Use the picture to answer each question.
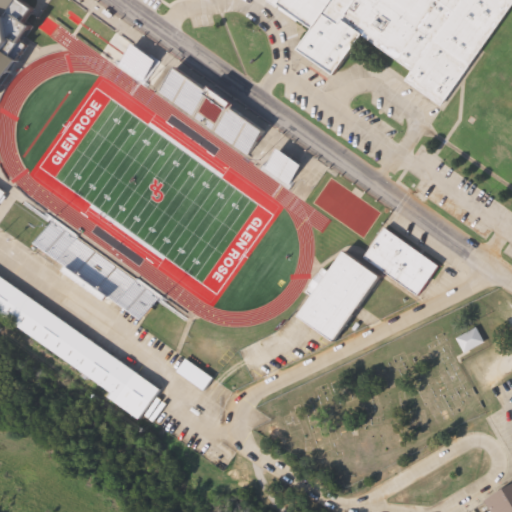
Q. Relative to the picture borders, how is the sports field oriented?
on a diagonal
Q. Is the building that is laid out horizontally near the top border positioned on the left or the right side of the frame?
right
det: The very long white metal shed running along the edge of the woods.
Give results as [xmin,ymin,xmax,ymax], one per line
[0,277,161,419]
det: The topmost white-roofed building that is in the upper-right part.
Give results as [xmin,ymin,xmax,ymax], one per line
[274,0,512,106]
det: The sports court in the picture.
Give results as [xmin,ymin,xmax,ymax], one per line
[312,177,383,240]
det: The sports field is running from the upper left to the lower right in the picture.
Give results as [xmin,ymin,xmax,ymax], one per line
[15,72,299,310]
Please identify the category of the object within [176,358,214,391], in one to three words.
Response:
building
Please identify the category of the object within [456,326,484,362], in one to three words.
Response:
house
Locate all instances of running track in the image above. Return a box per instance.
[0,16,331,327]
